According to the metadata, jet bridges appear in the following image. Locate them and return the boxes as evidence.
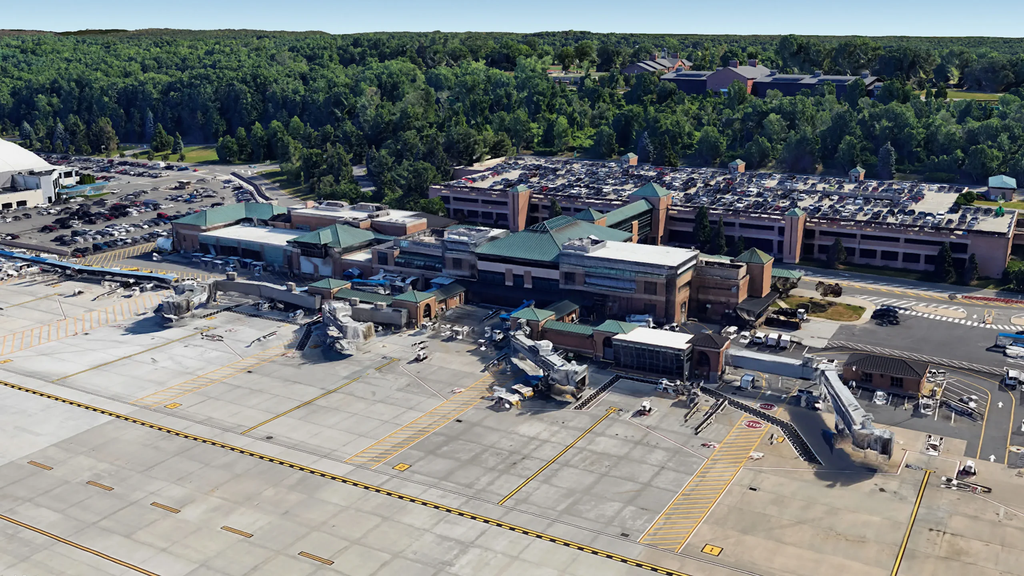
[332,295,407,345]
[156,273,335,316]
[500,320,591,393]
[724,346,888,452]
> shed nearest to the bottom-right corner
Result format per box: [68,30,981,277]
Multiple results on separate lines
[842,350,931,396]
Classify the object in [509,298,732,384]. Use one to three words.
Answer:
building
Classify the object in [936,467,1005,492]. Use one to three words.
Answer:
work vehicle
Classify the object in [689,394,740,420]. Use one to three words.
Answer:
work vehicle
